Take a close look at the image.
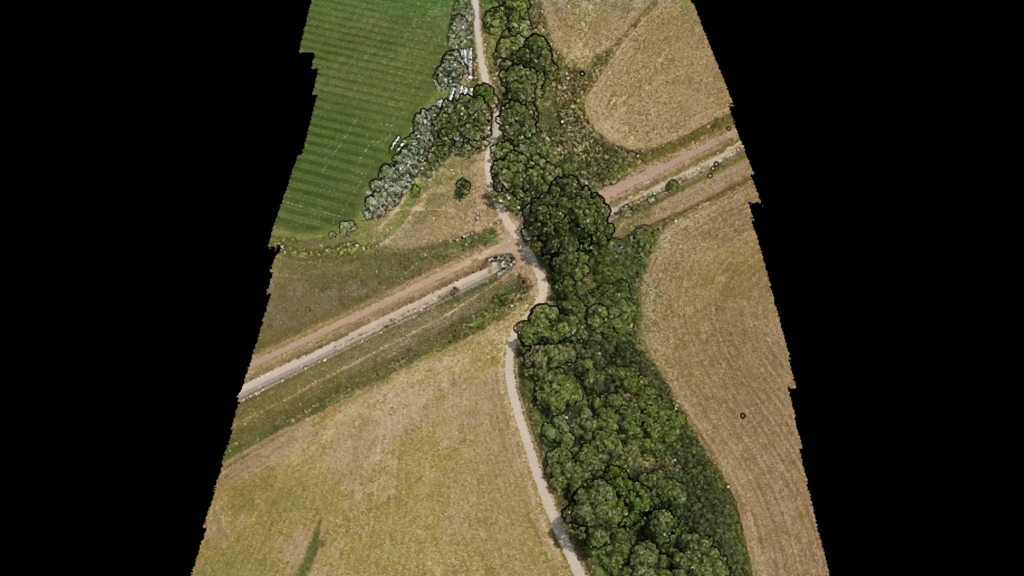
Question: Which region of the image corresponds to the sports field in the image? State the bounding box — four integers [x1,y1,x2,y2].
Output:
[272,0,452,238]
